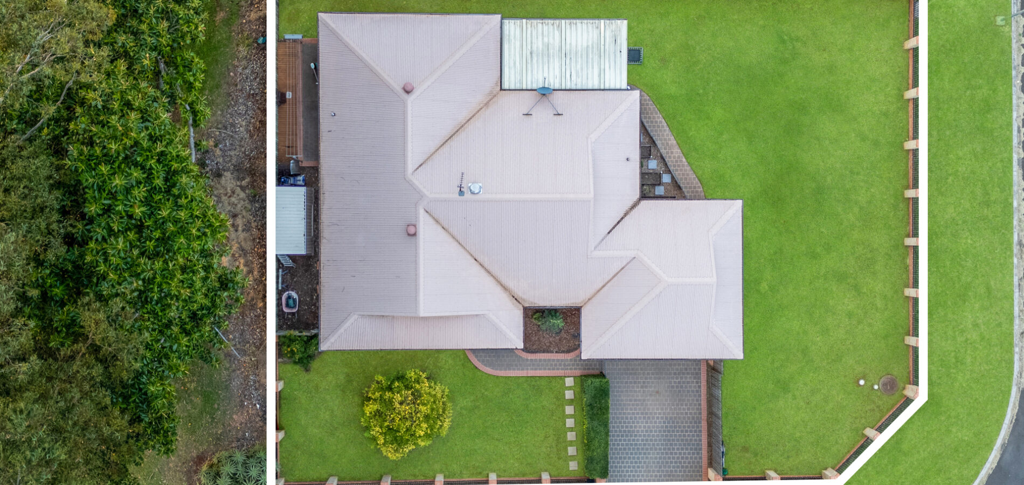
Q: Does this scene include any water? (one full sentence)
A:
No, no water is visible.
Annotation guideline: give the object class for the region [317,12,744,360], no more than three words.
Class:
house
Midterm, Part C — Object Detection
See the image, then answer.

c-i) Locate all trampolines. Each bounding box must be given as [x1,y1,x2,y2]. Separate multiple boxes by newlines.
[628,47,643,66]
